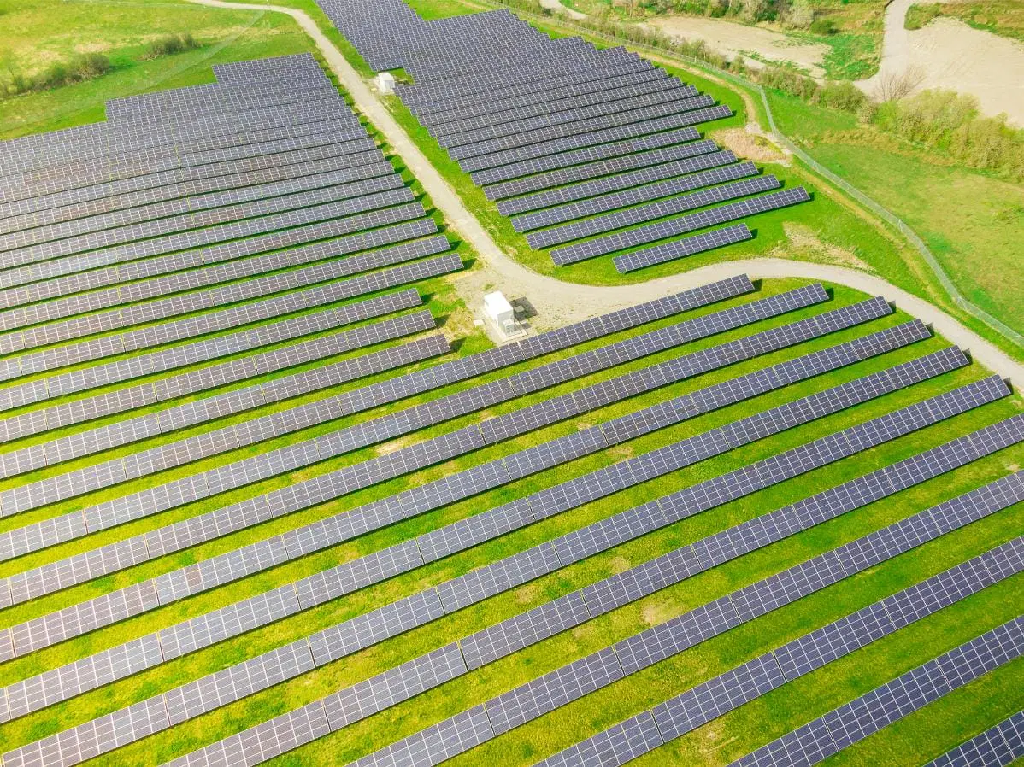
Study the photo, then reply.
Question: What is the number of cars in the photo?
0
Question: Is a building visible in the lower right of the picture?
No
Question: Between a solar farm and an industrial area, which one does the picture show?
solar farm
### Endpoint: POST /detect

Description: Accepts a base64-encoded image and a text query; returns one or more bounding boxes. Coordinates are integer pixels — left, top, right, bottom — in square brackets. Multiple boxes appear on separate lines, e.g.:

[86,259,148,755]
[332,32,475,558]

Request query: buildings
[482,291,520,333]
[378,72,396,92]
